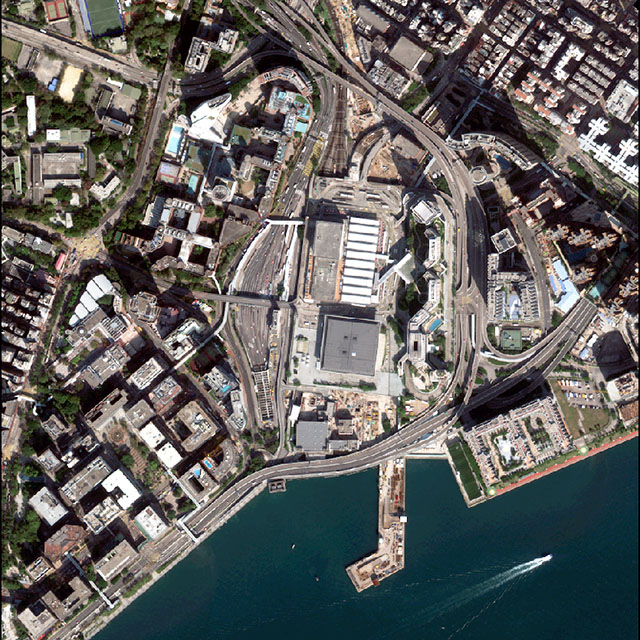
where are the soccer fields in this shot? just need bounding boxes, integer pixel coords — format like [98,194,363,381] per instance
[88,0,123,39]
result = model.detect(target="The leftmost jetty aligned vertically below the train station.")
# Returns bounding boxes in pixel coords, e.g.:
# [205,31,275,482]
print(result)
[345,454,406,591]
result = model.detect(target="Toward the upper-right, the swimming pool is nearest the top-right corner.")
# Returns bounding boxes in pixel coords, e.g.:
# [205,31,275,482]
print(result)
[494,153,511,169]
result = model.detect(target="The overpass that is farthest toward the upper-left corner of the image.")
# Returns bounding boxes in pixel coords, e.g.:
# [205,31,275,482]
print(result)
[0,22,161,88]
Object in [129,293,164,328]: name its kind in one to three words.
building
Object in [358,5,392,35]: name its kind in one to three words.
building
